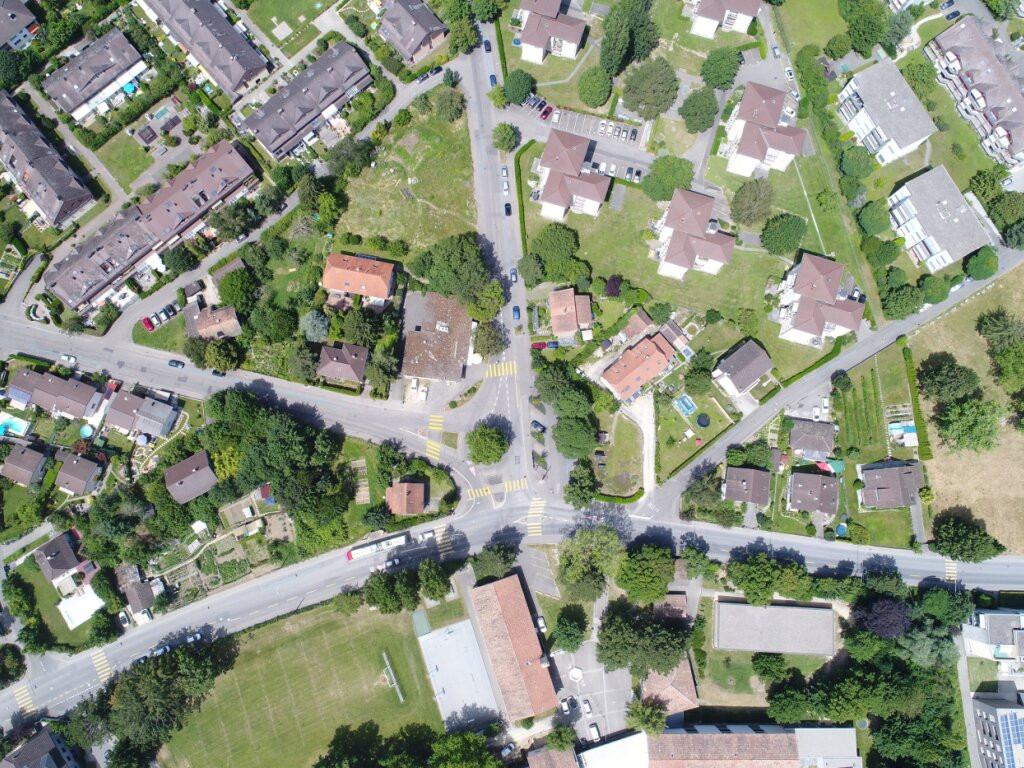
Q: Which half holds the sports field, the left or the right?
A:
left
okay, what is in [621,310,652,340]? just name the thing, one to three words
shed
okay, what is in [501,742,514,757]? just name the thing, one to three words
vehicle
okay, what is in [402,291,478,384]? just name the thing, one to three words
building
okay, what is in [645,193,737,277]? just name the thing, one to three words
house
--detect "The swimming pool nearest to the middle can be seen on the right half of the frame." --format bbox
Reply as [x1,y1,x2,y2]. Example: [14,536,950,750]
[675,394,697,415]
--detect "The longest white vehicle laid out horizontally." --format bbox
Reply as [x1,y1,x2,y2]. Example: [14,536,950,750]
[346,536,411,560]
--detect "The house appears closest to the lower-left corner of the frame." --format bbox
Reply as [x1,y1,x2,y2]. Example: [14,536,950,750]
[1,727,79,768]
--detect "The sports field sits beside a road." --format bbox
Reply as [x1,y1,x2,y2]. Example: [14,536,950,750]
[161,601,444,768]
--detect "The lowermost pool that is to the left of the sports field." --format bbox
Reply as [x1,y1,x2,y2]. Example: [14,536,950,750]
[66,584,102,613]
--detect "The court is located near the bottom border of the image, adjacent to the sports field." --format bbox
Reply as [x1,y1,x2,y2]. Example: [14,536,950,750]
[418,620,504,735]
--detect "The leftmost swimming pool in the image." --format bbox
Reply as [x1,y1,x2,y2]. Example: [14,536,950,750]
[0,412,31,435]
